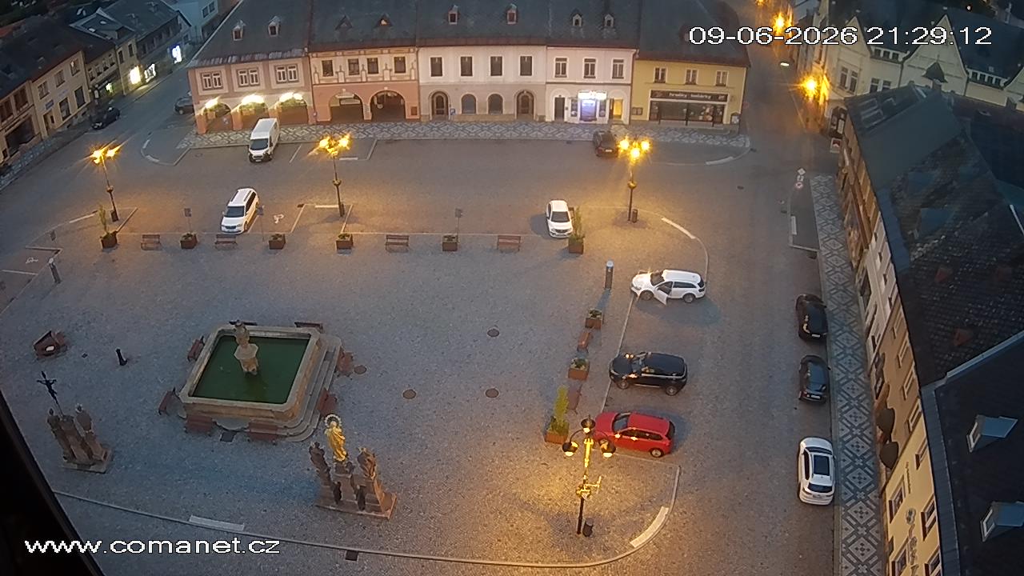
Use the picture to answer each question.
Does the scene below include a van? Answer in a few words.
Yes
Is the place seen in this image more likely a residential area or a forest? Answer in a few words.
residential area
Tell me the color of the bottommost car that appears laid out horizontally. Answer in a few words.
red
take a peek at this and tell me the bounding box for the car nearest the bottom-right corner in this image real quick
[793,430,839,510]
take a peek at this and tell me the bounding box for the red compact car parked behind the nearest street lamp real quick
[589,408,677,458]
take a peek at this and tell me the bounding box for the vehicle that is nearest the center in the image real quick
[547,197,576,237]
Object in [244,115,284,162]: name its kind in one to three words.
van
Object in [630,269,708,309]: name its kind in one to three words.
car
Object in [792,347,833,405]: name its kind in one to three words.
car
